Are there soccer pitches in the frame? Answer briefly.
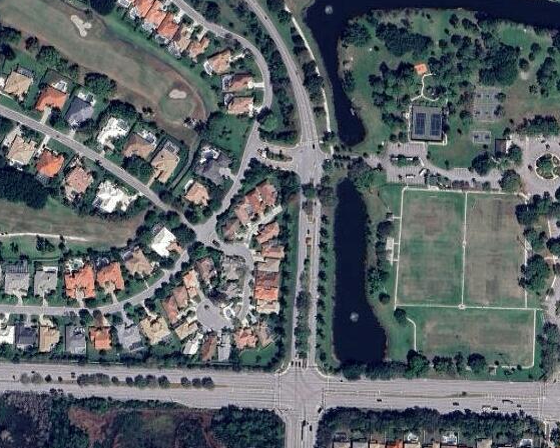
Yes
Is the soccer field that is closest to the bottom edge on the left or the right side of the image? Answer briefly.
right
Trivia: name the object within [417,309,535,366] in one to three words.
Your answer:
soccer field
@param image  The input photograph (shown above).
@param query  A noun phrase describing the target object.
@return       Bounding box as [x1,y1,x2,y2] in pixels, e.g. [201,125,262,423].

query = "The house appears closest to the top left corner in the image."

[3,65,34,97]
